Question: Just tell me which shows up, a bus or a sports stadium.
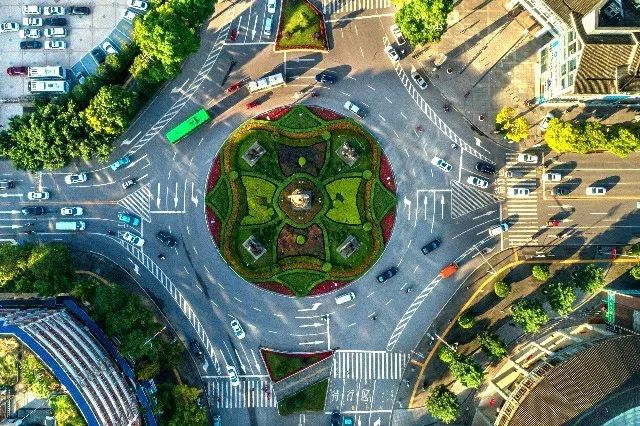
bus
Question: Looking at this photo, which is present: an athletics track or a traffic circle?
traffic circle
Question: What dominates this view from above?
paved ground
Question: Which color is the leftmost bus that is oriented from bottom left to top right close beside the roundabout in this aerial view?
green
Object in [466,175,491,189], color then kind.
white car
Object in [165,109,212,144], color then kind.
green bus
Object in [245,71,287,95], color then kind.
white bus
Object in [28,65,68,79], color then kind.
white vehicle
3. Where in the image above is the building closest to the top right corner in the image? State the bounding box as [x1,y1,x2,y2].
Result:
[497,0,640,109]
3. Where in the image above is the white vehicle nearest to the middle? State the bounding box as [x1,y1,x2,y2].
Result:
[334,291,356,305]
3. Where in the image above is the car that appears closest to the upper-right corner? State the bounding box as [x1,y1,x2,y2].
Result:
[539,111,555,134]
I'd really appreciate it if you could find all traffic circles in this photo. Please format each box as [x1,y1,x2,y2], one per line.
[203,102,399,298]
